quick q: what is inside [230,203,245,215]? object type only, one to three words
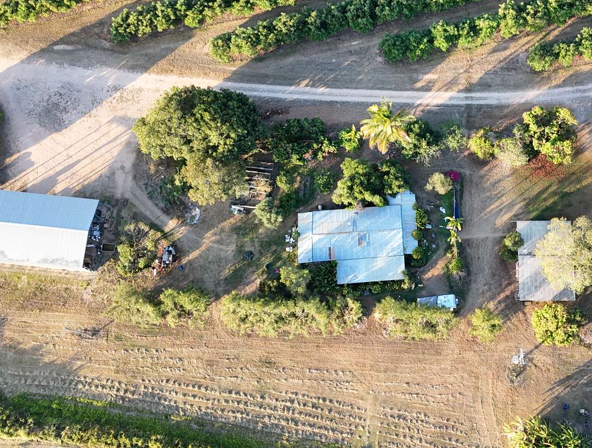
vehicle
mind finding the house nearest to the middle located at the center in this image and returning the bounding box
[298,192,418,286]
